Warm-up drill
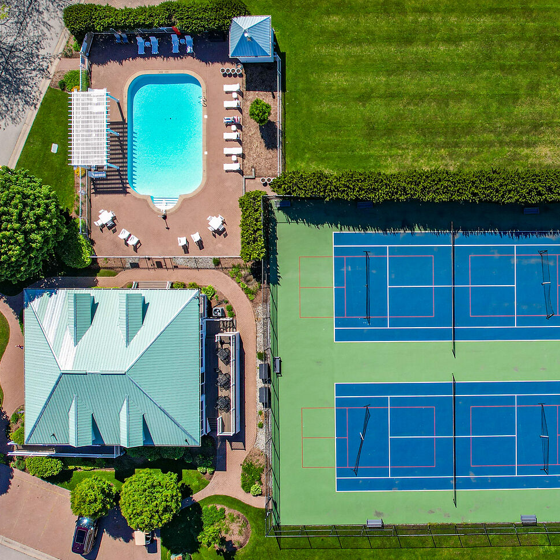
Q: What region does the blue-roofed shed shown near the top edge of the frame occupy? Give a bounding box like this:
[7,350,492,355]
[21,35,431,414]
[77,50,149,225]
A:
[229,15,273,62]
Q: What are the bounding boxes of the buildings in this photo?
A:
[229,15,273,62]
[21,286,214,450]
